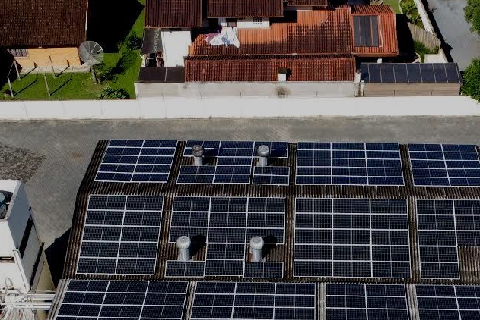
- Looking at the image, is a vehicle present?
No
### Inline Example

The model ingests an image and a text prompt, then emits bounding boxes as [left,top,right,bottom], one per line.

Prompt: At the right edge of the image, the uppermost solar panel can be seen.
[360,62,462,84]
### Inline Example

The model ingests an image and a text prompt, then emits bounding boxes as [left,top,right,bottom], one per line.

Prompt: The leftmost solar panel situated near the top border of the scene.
[354,15,379,46]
